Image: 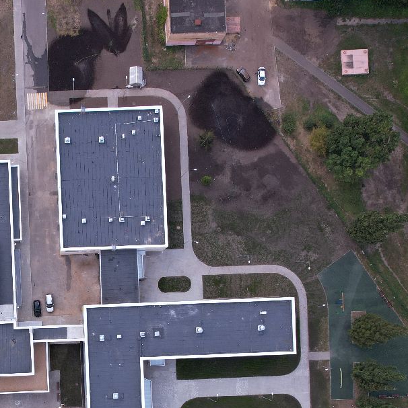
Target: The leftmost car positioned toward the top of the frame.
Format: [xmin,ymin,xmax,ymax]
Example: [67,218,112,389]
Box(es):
[235,66,252,84]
